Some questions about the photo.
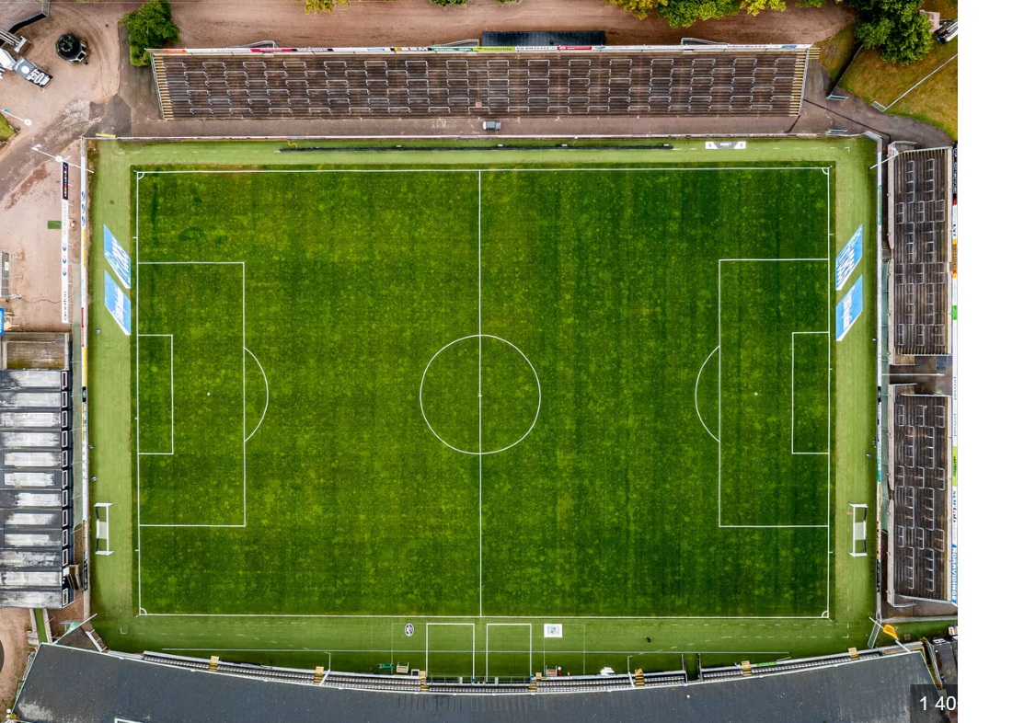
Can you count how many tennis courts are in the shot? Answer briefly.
0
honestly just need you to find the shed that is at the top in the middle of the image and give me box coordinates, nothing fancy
[483,31,605,51]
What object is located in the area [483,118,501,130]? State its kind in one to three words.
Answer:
vehicle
